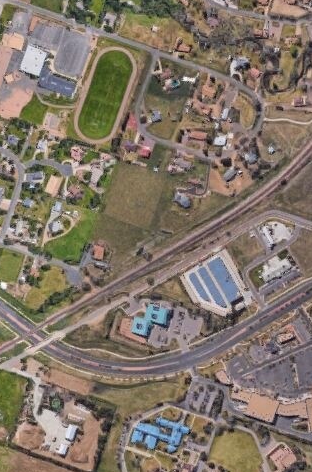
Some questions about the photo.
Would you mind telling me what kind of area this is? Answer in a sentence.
The picture captures a residential area.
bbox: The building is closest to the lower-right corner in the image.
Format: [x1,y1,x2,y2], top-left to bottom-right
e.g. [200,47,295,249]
[269,444,296,470]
